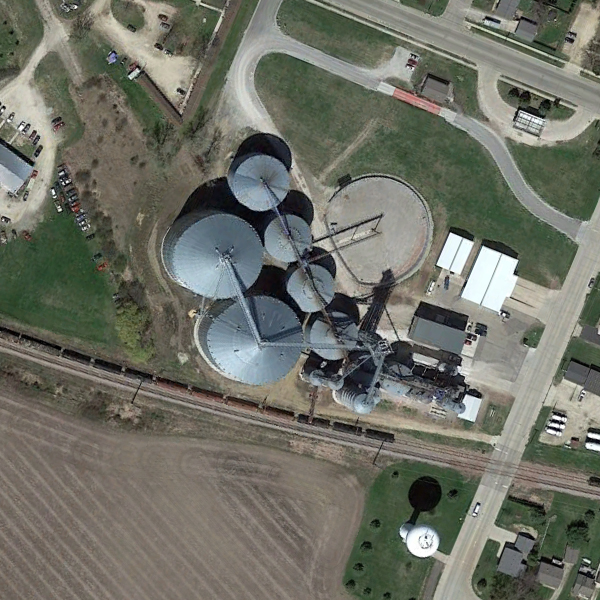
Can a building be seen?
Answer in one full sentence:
Yes, there's a building here.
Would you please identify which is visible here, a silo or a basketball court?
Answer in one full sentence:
Looking from above, you can make out a silo.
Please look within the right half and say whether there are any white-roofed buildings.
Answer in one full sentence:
Yes, looking within the right half, one can make out a white-roofed building.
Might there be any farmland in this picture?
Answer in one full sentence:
Yes, farmland can be seen from above here.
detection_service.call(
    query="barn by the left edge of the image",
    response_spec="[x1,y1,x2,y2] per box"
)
[0,141,34,194]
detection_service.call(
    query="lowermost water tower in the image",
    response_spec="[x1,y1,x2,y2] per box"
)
[396,521,439,558]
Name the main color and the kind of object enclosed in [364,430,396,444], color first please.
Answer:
black rail car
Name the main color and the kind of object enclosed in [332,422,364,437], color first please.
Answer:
black rail car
